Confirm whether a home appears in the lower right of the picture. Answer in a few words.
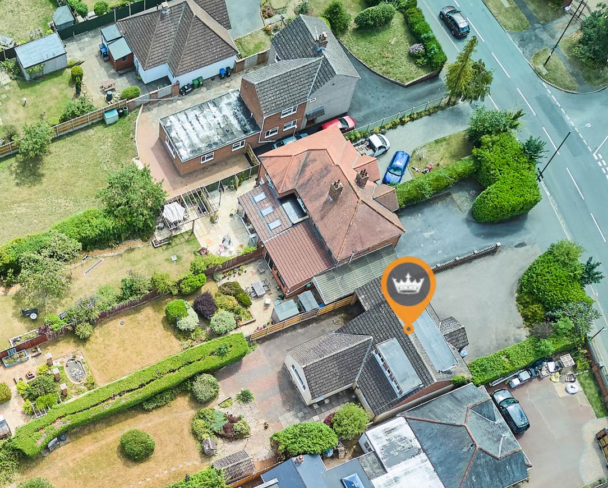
Yes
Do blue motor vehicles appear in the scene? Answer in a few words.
Yes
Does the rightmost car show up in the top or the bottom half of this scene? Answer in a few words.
bottom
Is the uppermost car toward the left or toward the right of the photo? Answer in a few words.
right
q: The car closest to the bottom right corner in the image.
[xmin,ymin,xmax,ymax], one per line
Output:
[489,386,536,439]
